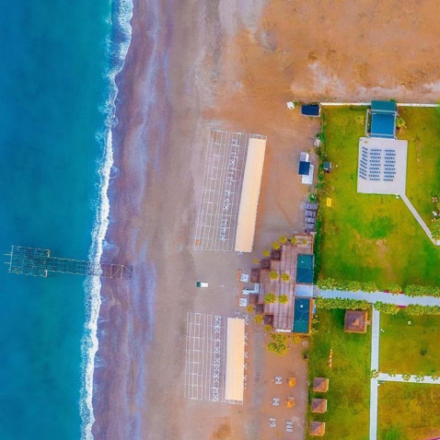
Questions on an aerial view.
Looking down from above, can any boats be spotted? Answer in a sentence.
No, there is no boat in the image.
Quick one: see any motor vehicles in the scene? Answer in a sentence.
No, the picture doesn't show any motor vehicle.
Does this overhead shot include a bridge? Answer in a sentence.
No, the frame has no bridge in it.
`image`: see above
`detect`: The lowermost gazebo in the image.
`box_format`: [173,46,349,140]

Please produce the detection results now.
[310,421,328,437]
